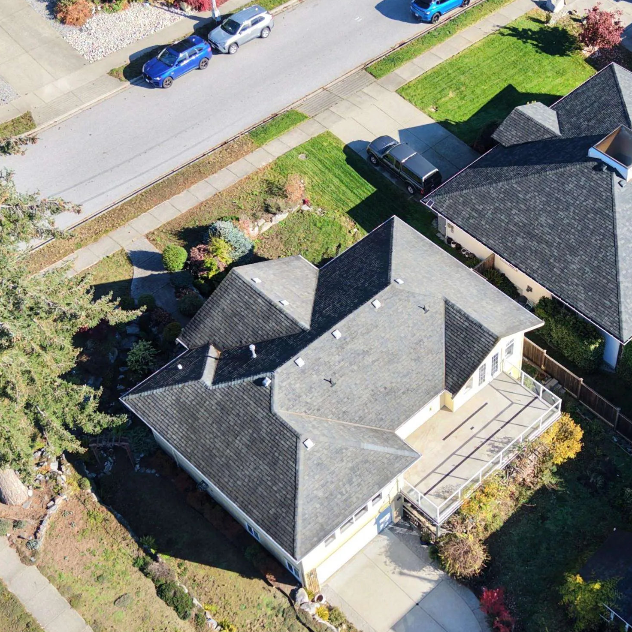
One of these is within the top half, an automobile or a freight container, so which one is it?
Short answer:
automobile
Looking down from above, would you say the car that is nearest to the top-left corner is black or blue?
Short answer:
blue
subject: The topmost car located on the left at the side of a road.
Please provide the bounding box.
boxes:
[205,5,273,55]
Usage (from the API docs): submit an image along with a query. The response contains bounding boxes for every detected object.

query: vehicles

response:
[365,135,442,193]
[138,36,212,89]
[205,5,273,55]
[409,0,471,24]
